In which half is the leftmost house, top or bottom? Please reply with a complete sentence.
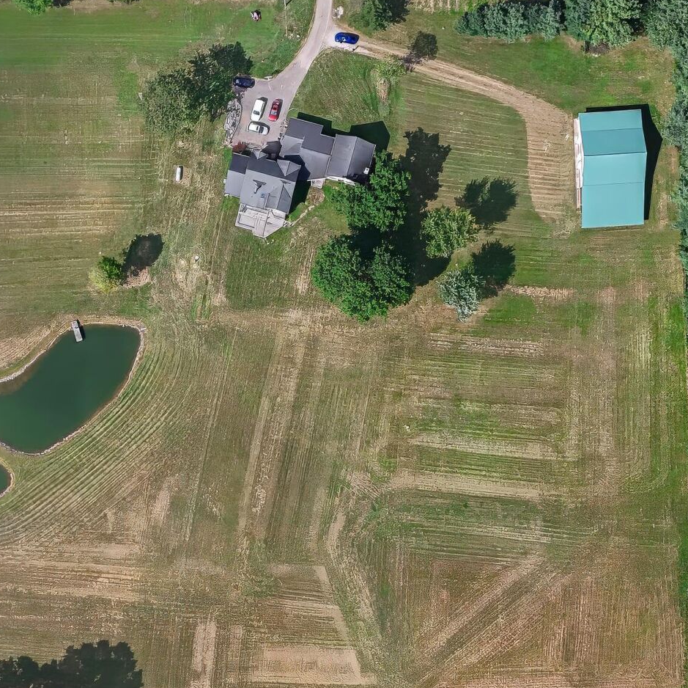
The leftmost house is in the top half of the image.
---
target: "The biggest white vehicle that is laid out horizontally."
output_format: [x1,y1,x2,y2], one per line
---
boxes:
[247,122,269,135]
